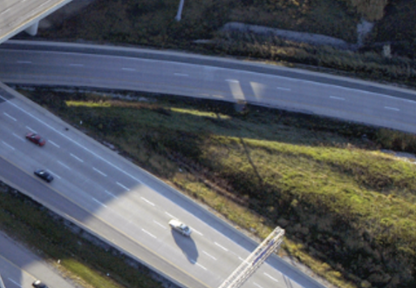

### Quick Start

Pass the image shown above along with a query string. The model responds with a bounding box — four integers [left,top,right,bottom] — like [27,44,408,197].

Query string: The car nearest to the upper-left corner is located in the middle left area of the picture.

[27,132,49,148]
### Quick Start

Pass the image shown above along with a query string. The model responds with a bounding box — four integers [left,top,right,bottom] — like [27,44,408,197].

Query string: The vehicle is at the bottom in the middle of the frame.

[170,220,194,237]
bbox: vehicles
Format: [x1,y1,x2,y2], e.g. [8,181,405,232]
[35,169,57,184]
[27,132,49,148]
[30,281,48,288]
[170,220,194,237]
